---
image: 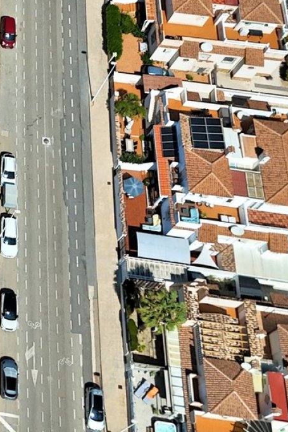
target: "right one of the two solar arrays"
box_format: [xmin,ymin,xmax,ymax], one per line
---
[190,117,225,148]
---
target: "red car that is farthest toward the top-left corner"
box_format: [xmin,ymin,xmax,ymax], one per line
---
[0,15,18,50]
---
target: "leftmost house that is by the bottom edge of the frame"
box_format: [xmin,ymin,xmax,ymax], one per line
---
[165,285,263,432]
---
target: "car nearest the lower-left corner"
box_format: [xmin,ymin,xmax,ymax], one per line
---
[0,356,19,402]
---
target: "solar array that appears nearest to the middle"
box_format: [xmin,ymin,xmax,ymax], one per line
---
[158,123,175,165]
